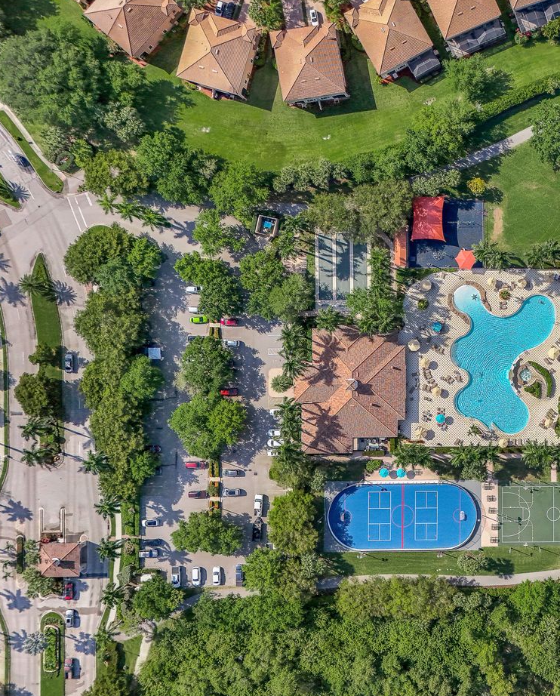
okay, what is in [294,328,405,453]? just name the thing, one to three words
building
